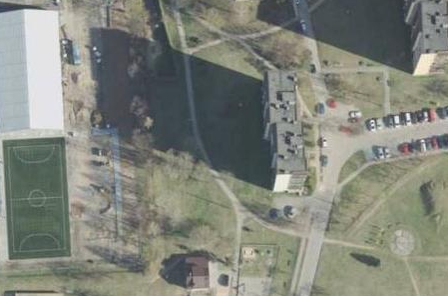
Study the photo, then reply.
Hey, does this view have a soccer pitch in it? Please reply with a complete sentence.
Yes, this view includes a soccer pitch.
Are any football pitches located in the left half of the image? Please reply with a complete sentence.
Yes, in the left half of the image there is a football pitch.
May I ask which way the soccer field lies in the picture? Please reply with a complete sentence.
The soccer field runs from top to bottom in the image.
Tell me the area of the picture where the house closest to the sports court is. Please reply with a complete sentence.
The house closest to the sports court sits in the bottom section of the image.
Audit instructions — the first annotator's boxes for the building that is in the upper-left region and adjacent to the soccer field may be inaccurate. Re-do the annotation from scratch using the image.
[0,8,64,135]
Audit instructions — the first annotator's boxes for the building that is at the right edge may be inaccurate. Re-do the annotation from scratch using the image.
[405,0,448,77]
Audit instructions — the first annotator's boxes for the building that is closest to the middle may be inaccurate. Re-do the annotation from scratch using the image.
[263,71,306,194]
